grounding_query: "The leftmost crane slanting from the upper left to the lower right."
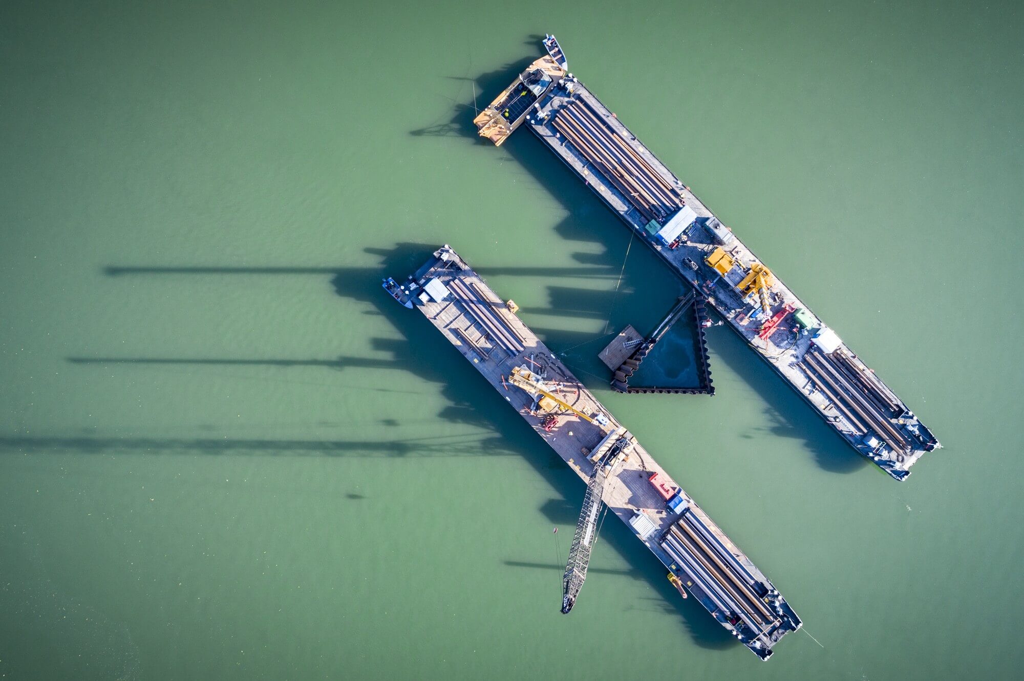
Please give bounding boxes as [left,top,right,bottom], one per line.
[498,352,596,426]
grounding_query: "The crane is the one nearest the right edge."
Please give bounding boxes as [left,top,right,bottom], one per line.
[706,241,782,320]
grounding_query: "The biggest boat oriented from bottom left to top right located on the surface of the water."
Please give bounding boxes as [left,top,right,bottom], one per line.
[474,54,565,147]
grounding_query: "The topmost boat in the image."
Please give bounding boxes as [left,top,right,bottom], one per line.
[543,33,568,72]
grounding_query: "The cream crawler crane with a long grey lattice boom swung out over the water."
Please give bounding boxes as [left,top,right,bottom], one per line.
[556,429,636,621]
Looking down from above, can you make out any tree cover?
No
